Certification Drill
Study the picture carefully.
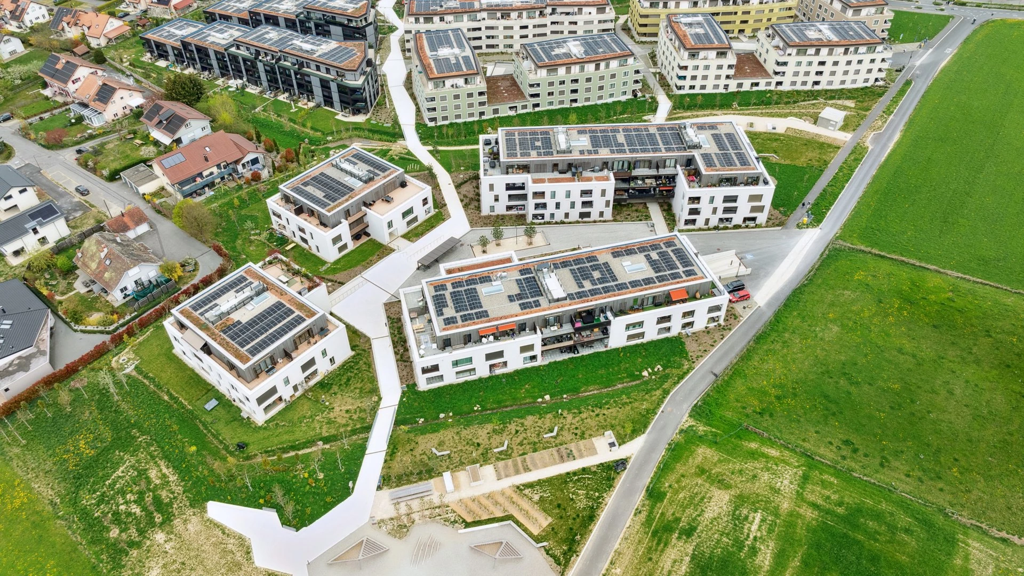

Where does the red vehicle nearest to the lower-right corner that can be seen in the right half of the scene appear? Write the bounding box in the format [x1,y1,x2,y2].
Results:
[729,288,753,303]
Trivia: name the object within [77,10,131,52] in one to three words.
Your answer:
house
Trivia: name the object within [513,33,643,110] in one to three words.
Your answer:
building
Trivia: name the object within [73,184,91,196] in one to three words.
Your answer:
vehicle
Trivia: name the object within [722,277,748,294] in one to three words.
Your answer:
car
